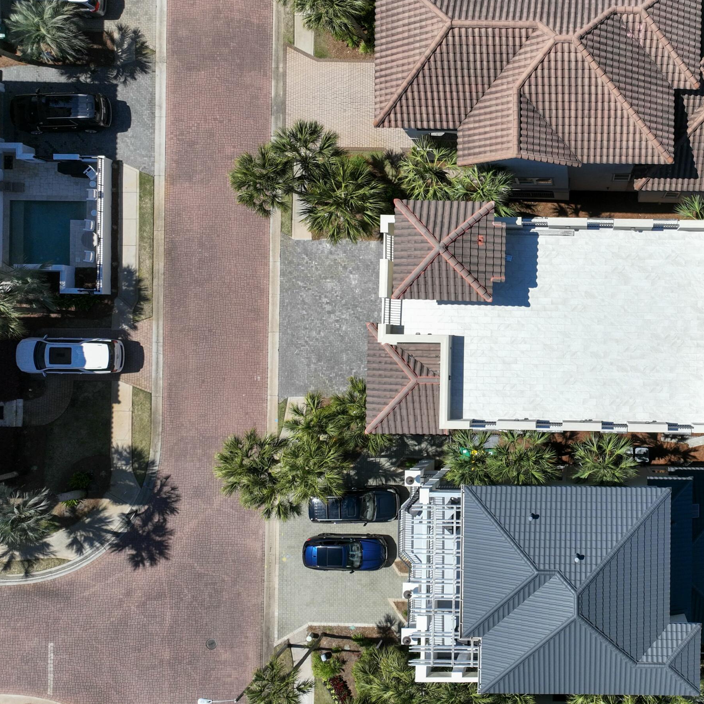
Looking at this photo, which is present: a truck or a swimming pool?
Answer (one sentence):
The one in the frame is a swimming pool.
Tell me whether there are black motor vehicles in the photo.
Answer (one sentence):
Yes, you can see a black motor vehicle in this photo.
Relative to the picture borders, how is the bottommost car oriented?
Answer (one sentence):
What the image shows is the bottommost car lying from left to right.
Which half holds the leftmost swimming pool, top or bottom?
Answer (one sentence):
The leftmost swimming pool sits in the top half of the picture.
